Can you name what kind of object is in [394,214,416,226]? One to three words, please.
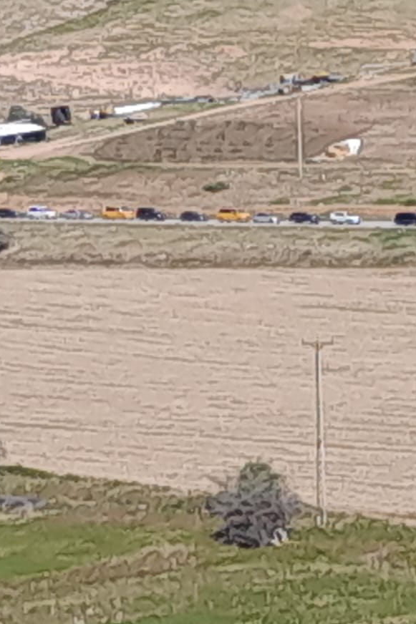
vehicle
